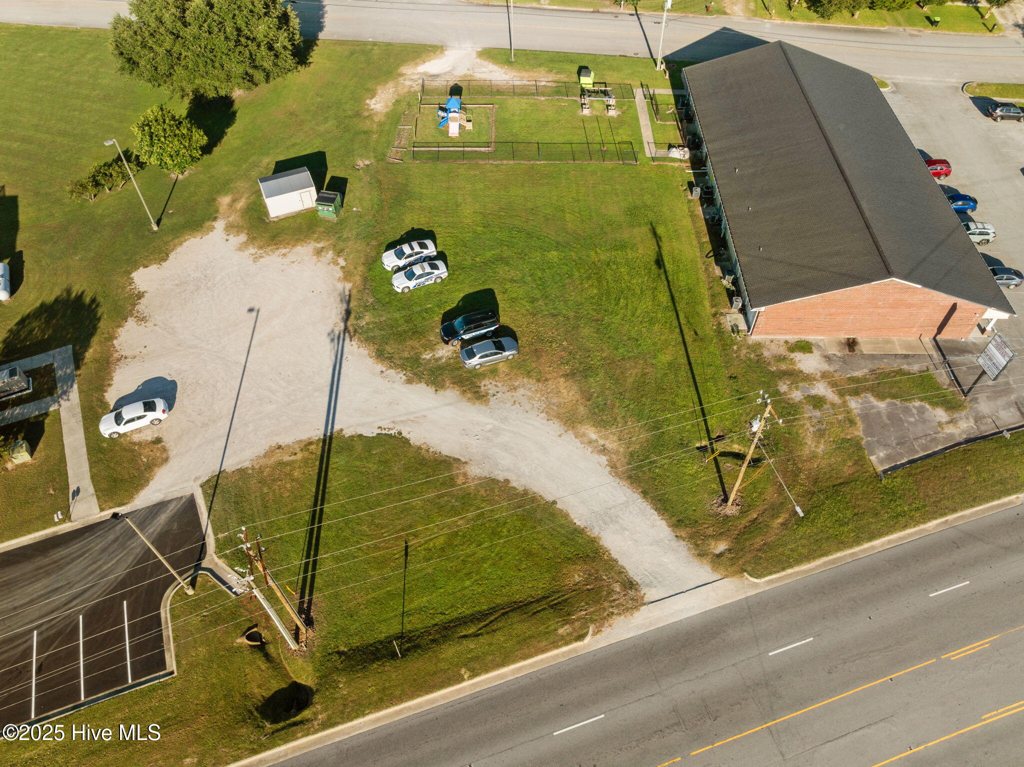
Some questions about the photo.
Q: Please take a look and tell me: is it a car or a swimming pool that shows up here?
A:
car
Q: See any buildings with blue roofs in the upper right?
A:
No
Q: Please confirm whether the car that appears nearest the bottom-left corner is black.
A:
No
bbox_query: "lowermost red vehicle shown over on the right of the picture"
[920,160,953,182]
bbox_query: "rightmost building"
[683,41,1015,342]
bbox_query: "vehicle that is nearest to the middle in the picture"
[459,338,519,369]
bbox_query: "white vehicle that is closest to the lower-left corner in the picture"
[97,399,168,439]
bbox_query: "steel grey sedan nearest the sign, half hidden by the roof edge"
[986,268,1024,290]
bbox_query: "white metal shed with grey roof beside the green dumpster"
[258,171,317,220]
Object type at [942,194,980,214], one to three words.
car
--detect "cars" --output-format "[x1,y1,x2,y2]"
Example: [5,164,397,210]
[986,268,1024,290]
[381,242,436,271]
[391,262,447,293]
[920,160,953,182]
[97,399,168,439]
[986,102,1024,123]
[459,338,519,369]
[439,309,499,346]
[942,194,980,214]
[960,223,995,247]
